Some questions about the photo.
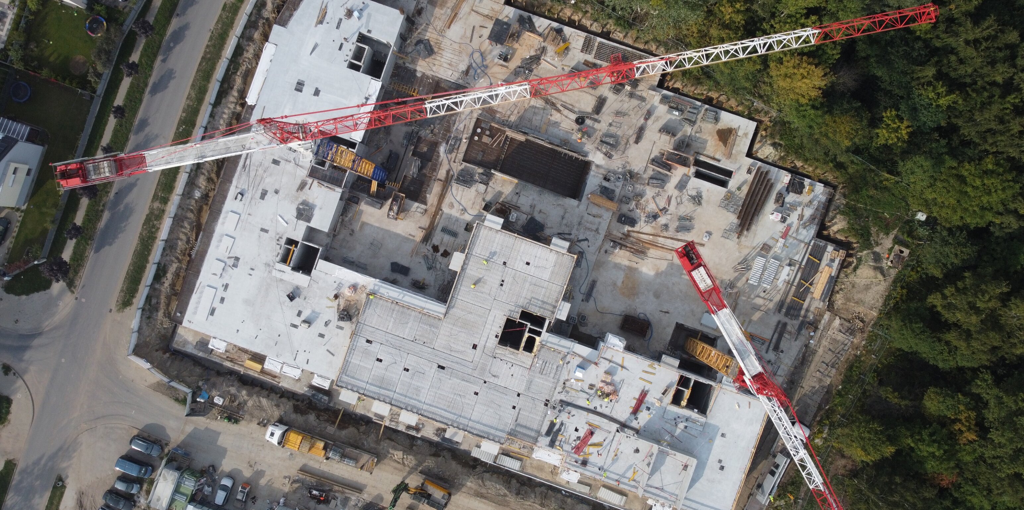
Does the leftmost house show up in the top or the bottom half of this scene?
top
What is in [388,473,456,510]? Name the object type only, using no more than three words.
work vehicle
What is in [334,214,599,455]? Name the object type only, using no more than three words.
building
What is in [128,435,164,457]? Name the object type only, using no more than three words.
car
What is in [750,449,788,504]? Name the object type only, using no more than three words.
shed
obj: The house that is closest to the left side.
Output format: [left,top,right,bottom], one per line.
[0,117,65,209]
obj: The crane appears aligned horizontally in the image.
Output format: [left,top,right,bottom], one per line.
[48,6,938,194]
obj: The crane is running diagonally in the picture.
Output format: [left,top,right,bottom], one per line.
[673,237,839,510]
